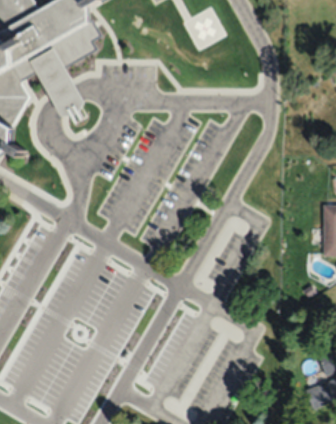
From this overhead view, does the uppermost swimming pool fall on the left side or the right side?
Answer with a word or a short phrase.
right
